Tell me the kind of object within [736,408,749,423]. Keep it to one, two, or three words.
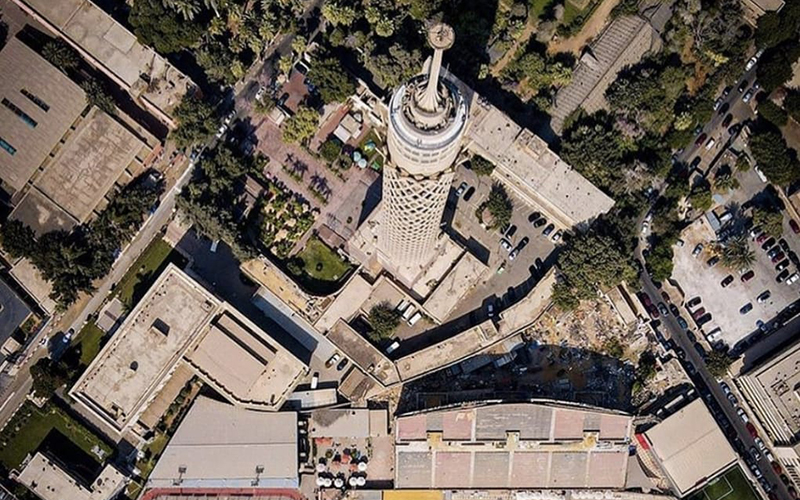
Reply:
vehicle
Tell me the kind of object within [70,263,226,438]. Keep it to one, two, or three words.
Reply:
house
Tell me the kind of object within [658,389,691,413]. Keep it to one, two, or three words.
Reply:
bus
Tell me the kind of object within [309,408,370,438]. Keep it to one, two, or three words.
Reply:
building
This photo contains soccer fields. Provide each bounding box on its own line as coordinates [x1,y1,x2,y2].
[684,466,762,500]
